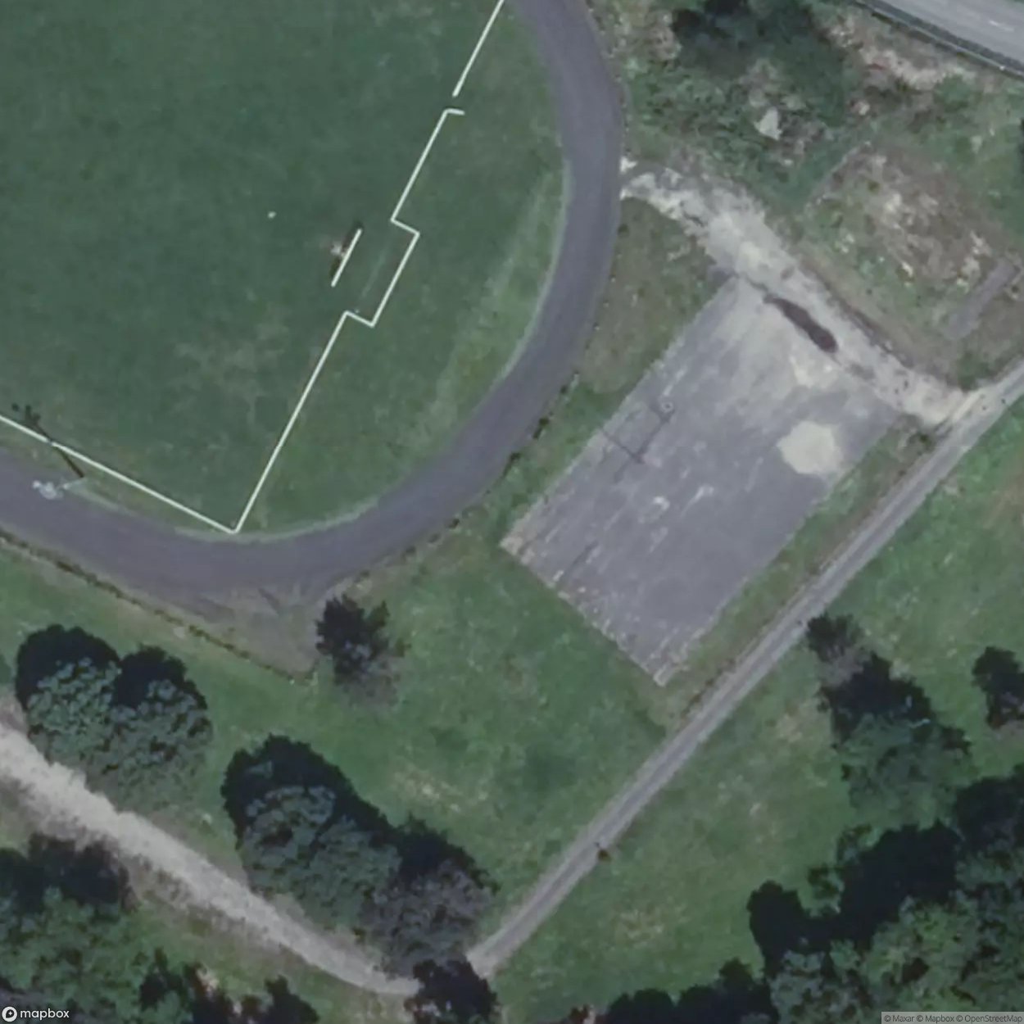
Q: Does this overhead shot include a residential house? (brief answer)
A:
No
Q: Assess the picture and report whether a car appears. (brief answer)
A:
No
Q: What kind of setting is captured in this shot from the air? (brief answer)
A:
sports ground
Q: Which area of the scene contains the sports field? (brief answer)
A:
top left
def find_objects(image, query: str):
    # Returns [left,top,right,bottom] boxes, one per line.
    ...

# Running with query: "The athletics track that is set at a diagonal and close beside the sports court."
[0,0,621,619]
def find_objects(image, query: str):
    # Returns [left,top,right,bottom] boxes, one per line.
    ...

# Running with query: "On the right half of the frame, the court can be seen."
[502,277,897,687]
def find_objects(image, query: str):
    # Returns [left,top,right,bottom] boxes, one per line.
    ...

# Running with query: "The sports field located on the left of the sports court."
[0,0,501,530]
